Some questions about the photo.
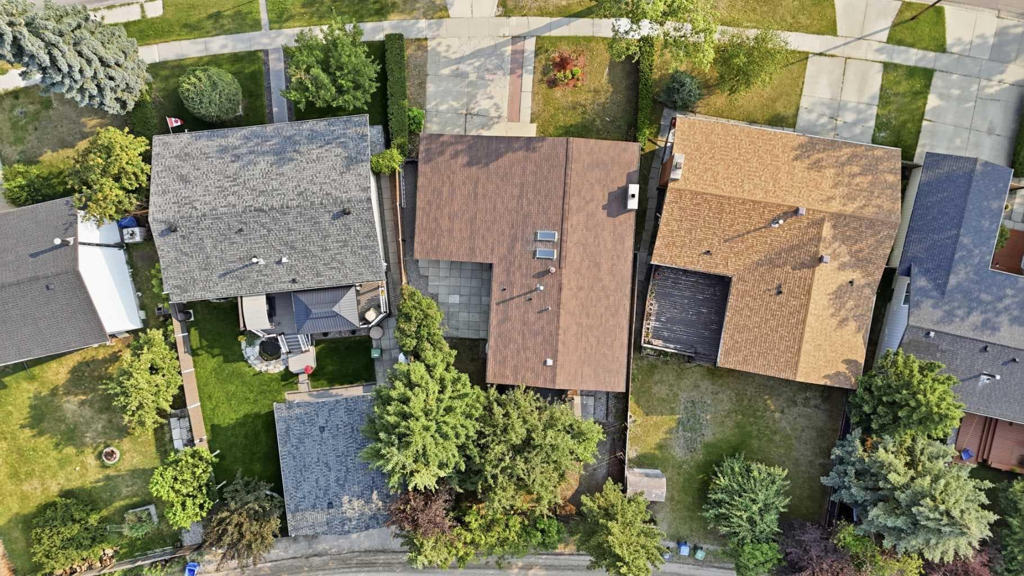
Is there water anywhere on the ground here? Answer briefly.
No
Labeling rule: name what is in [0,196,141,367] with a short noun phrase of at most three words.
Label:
house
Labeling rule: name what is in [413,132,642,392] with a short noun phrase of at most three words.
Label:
house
